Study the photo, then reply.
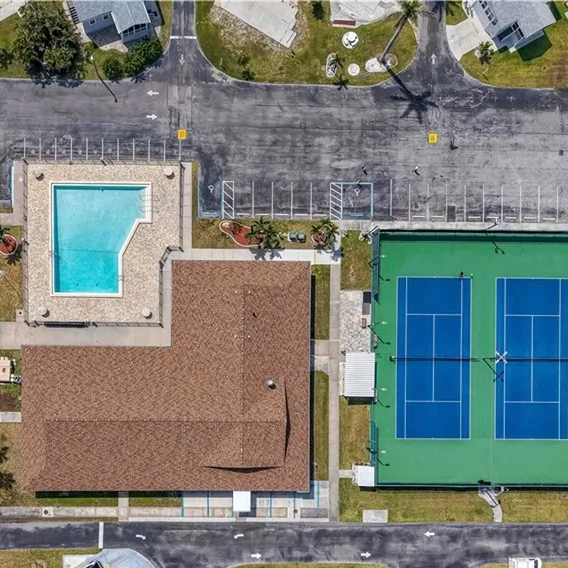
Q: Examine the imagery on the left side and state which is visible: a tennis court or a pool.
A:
pool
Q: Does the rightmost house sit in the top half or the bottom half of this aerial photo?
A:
top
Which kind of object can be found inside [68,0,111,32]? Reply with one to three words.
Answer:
house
